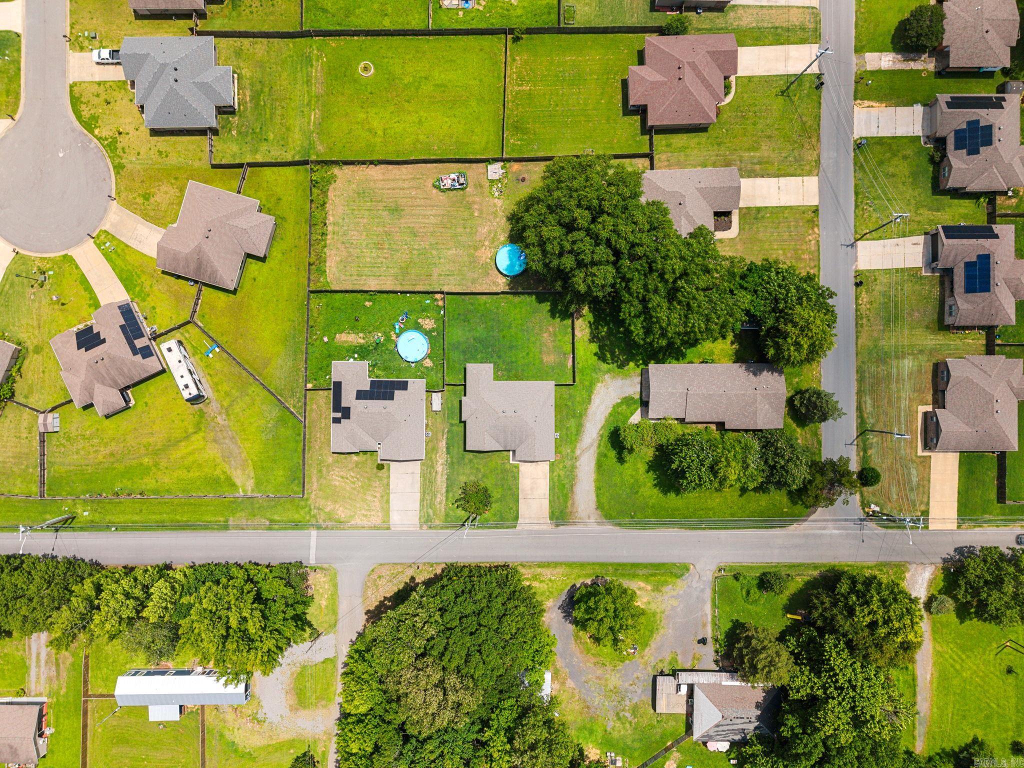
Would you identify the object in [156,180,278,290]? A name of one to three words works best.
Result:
house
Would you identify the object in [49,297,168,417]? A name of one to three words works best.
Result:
house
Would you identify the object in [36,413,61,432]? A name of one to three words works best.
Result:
shed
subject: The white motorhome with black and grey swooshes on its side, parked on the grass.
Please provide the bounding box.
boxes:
[162,339,206,402]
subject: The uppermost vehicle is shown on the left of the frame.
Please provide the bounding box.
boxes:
[88,47,120,62]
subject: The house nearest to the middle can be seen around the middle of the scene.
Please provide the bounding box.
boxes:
[462,363,555,462]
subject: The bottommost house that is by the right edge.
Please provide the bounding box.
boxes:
[925,355,1024,451]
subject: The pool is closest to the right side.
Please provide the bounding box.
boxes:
[495,242,527,275]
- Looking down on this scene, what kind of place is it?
residential area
